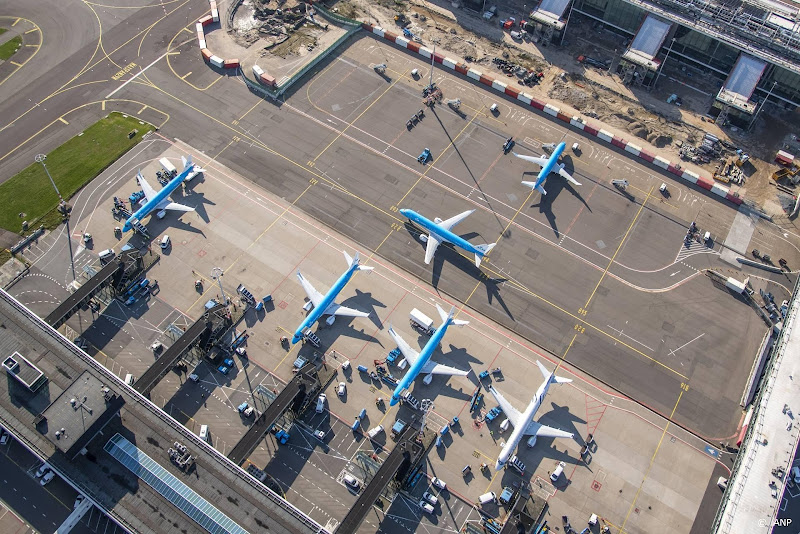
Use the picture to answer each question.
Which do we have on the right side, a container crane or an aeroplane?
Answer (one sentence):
You can see an aeroplane on the right side.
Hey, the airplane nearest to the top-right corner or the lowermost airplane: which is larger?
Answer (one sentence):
The lowermost airplane takes up more space than the airplane nearest to the top-right corner.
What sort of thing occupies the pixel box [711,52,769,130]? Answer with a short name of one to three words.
jet bridge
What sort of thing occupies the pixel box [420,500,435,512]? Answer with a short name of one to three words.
vehicle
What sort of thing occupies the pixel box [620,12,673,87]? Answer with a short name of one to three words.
jet bridge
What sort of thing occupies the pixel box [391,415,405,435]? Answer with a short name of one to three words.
vehicle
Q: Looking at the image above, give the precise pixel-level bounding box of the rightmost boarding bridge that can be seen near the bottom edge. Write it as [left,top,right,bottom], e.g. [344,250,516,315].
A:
[495,493,537,534]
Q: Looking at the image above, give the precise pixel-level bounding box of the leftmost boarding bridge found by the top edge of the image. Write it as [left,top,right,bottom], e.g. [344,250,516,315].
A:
[530,0,574,44]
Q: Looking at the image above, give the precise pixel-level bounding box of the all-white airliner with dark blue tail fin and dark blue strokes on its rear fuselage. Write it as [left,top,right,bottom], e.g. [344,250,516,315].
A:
[488,361,576,469]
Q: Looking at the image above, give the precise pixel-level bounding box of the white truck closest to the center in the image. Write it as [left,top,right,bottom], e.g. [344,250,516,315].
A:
[408,309,438,335]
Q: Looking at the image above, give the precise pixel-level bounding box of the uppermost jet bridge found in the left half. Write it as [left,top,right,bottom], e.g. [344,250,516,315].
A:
[45,249,140,331]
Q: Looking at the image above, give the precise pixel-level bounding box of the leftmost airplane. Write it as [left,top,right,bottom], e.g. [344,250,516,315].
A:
[123,152,208,230]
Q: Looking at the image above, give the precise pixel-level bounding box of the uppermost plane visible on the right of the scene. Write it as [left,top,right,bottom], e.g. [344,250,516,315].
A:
[512,142,583,197]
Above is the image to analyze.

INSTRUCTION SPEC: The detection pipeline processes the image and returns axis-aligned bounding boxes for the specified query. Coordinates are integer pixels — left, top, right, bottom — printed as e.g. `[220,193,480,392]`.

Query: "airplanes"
[512,142,583,197]
[294,250,375,341]
[401,208,498,268]
[488,361,576,469]
[123,152,208,230]
[389,304,470,403]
